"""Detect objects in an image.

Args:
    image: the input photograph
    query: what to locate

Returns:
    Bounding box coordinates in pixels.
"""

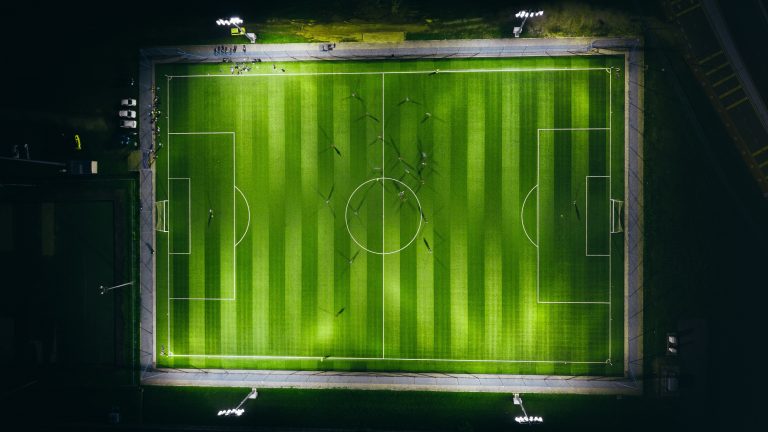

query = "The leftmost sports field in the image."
[0,185,124,381]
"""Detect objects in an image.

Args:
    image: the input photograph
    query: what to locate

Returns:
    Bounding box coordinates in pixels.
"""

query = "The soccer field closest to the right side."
[156,54,624,377]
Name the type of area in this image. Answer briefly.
sports ground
